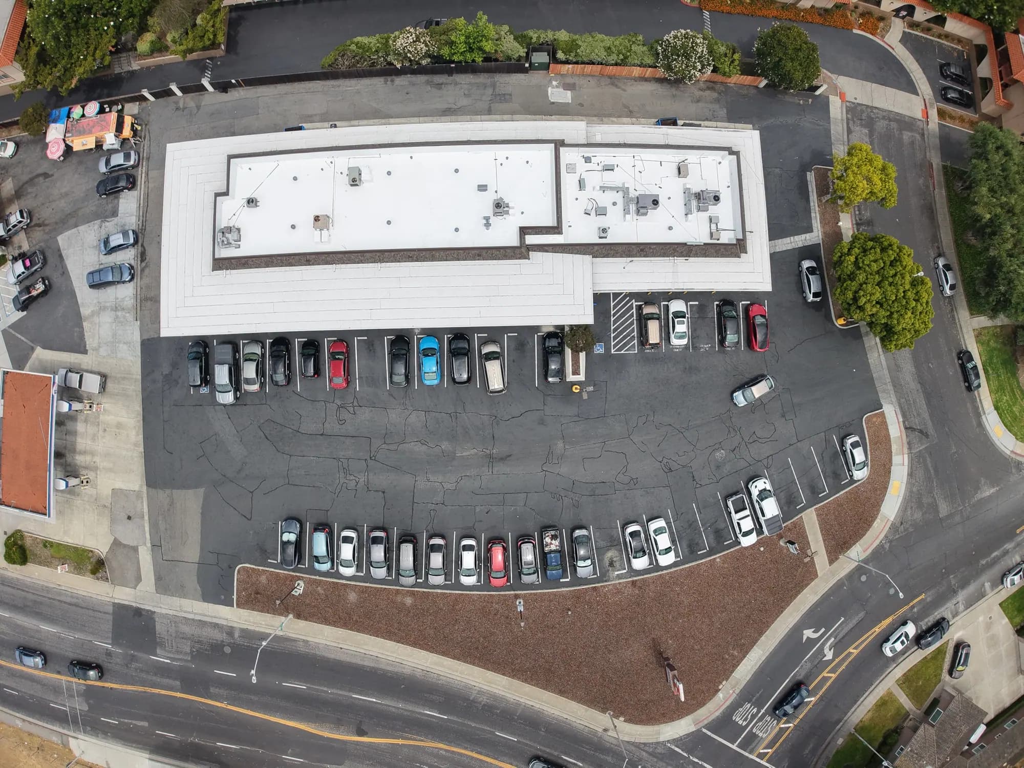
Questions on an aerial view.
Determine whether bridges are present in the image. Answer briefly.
No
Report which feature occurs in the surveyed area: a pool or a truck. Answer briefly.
truck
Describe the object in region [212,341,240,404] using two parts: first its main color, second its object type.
gray truck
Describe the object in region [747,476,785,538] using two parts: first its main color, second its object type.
white truck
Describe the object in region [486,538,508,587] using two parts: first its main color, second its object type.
red car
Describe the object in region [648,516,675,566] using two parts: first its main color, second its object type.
white car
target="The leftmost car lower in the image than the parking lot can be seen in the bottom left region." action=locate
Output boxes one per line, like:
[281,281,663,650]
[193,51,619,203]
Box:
[15,644,51,669]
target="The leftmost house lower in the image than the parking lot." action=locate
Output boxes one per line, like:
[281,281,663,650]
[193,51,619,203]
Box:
[887,690,989,768]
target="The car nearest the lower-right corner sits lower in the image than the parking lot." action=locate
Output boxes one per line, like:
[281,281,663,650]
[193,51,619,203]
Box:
[944,639,974,679]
